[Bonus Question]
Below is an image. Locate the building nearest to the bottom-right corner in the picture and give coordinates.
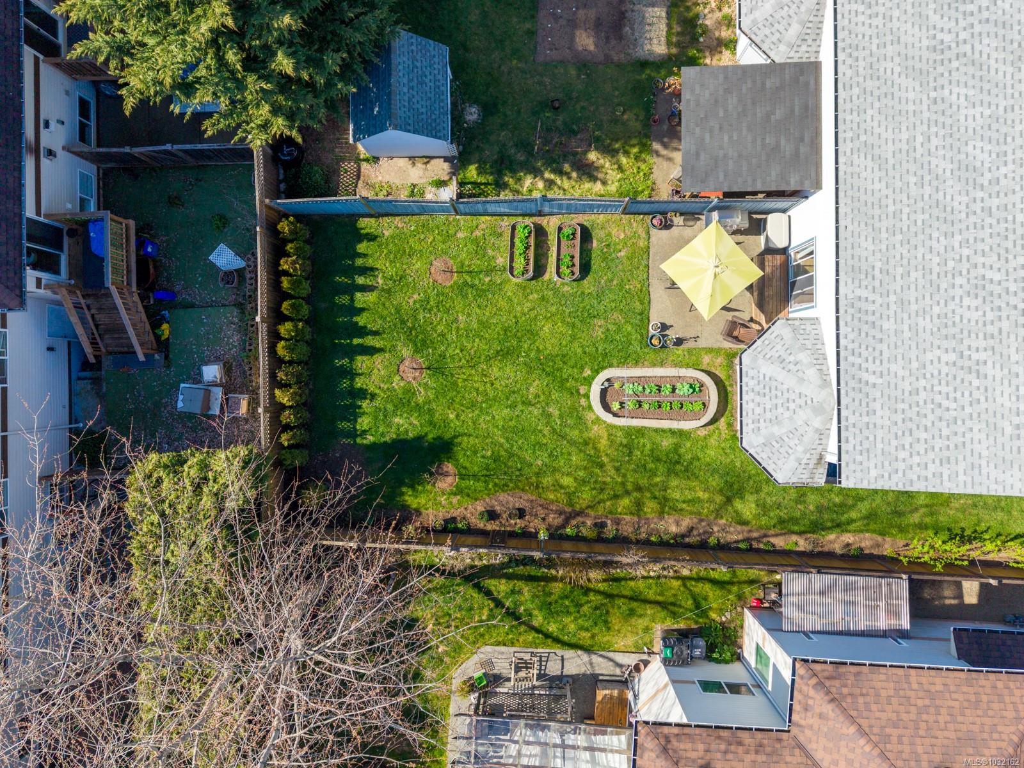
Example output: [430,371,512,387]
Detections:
[627,608,1024,768]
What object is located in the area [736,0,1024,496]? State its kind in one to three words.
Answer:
house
